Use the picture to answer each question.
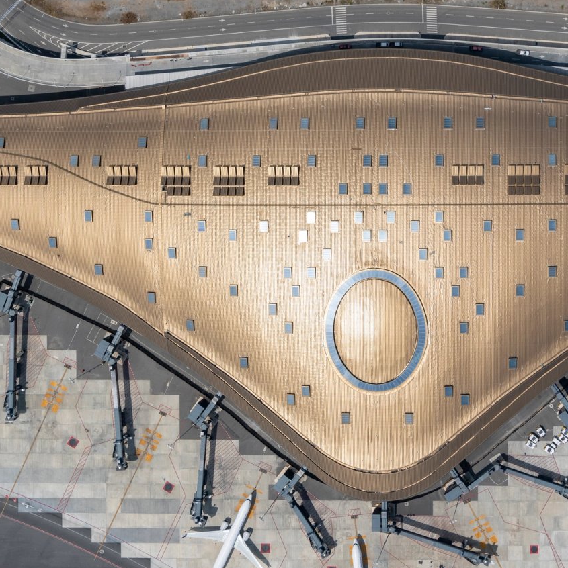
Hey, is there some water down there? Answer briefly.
No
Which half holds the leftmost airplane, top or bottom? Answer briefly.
bottom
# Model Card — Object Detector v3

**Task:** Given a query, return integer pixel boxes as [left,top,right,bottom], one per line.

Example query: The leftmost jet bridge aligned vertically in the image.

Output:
[0,270,28,425]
